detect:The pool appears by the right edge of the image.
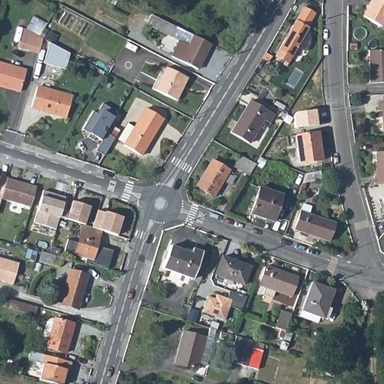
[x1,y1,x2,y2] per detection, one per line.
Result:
[352,26,366,40]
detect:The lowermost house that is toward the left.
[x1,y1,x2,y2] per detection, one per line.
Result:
[28,352,72,384]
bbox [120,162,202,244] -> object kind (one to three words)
roundabout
